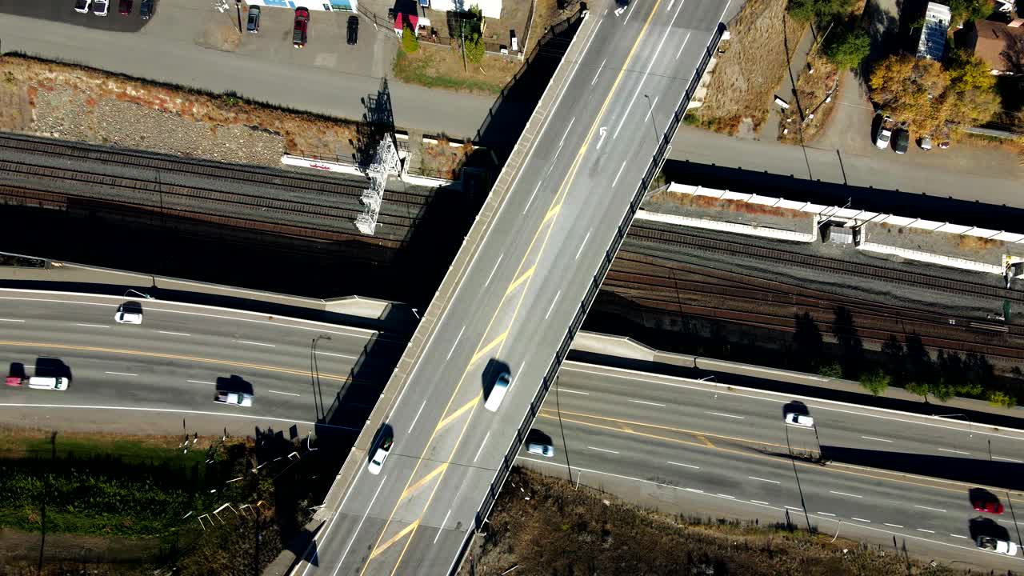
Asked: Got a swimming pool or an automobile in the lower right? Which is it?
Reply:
automobile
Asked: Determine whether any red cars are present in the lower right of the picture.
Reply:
Yes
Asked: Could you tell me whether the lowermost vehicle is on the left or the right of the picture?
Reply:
right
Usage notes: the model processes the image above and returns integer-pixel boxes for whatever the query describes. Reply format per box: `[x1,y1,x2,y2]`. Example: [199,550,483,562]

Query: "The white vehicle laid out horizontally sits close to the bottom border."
[974,535,1017,555]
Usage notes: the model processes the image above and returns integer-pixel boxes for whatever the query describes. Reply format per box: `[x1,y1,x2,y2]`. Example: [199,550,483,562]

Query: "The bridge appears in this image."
[318,0,725,532]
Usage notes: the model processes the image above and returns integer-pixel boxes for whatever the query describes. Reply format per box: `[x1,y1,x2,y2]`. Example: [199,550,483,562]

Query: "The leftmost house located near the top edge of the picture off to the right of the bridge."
[911,2,951,65]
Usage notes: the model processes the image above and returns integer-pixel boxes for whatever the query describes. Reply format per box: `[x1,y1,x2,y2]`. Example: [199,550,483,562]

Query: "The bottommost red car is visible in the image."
[970,499,1003,516]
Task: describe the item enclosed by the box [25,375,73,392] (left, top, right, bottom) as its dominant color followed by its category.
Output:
white vehicle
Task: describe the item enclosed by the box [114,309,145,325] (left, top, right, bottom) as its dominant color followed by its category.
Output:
white car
